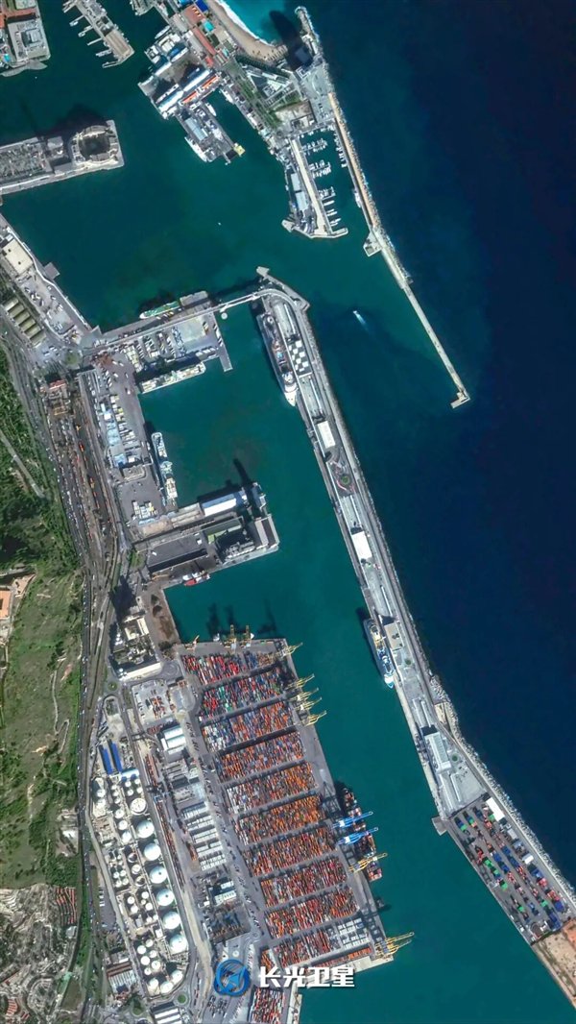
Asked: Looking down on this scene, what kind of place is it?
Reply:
port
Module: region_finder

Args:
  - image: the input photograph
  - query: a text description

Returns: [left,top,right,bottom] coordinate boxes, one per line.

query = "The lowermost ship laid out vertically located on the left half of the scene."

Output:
[153,432,179,511]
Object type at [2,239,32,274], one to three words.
building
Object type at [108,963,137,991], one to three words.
building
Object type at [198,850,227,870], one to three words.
shed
